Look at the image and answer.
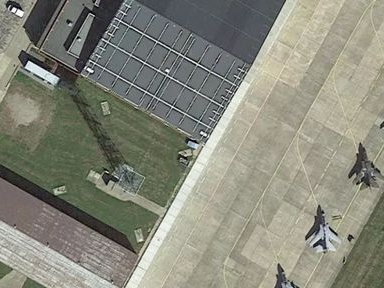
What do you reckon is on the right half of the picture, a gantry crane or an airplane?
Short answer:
airplane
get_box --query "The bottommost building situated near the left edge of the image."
[0,177,136,288]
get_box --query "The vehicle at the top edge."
[8,4,25,18]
